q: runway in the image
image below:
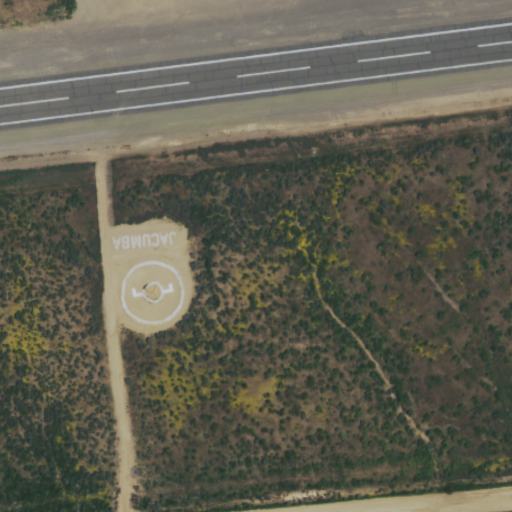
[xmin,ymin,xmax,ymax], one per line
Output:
[0,18,512,130]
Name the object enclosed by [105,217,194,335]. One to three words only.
helipad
